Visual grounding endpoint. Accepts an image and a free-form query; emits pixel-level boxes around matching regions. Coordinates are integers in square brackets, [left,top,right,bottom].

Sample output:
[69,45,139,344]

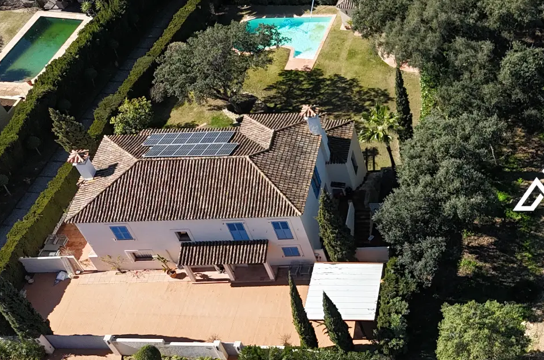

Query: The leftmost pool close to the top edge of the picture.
[0,11,93,86]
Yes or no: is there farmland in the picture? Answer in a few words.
No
